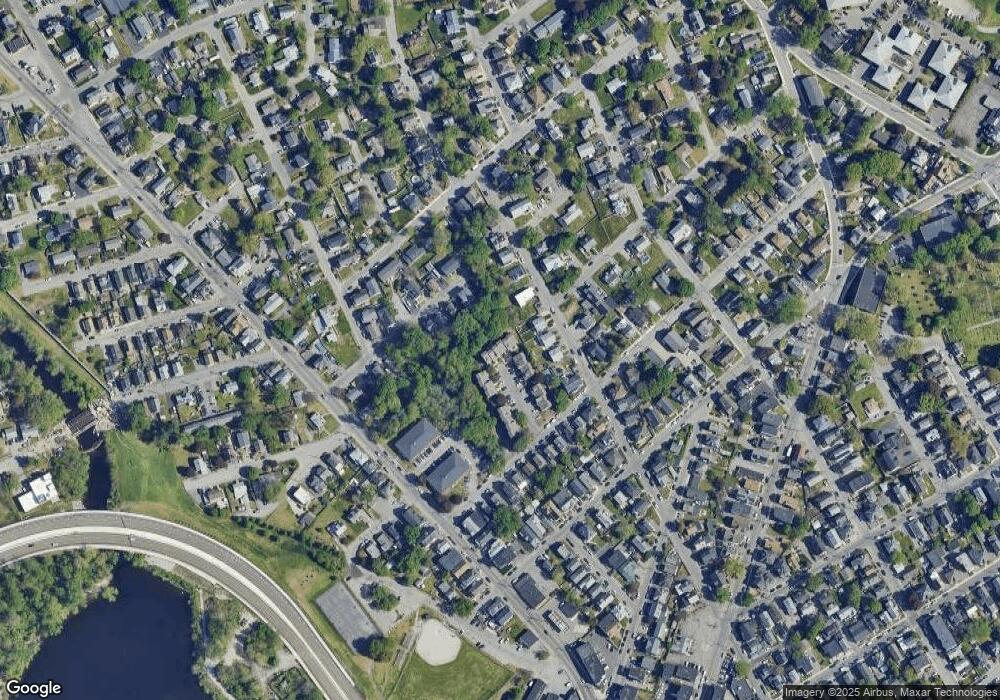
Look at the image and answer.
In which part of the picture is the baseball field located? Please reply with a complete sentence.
The baseball field appears toward the bottom of the photo.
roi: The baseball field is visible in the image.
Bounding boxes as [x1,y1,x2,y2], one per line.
[396,614,513,700]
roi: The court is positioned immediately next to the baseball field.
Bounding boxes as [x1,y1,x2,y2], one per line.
[320,587,378,649]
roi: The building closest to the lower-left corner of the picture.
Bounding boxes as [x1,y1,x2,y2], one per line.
[15,469,59,508]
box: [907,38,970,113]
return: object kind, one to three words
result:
building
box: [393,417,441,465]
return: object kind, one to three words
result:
building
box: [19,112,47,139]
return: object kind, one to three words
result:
house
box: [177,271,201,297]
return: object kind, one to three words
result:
house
